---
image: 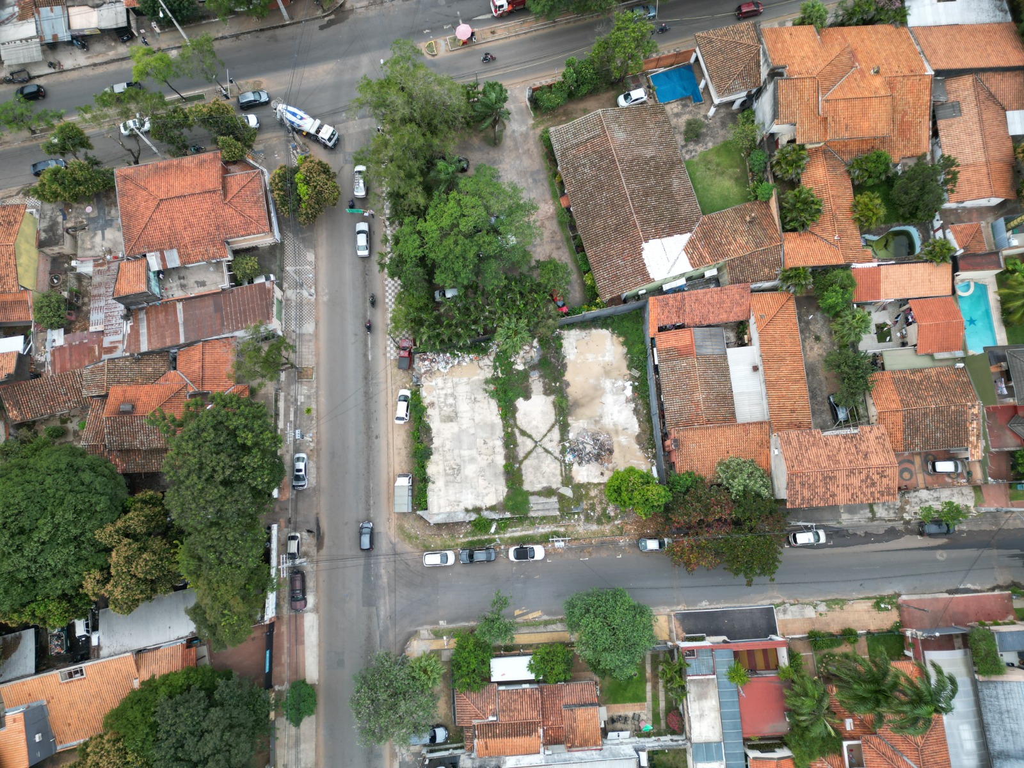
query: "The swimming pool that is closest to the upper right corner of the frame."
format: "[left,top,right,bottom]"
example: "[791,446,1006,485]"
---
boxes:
[861,224,923,261]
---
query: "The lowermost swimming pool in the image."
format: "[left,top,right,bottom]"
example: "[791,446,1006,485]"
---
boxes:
[953,280,1001,355]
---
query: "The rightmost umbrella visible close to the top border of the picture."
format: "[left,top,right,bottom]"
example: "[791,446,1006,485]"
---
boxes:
[455,24,472,39]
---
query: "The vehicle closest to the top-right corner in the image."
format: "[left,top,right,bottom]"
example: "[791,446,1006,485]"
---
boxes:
[734,0,764,21]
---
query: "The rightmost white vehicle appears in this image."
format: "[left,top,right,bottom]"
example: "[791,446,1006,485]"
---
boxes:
[927,459,962,476]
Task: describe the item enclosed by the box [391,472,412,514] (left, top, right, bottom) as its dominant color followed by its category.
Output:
white truck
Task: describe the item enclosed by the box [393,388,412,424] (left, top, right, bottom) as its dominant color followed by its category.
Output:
white car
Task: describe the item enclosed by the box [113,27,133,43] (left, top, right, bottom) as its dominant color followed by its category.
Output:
black car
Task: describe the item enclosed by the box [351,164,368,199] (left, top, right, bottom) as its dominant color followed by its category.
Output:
white vehicle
